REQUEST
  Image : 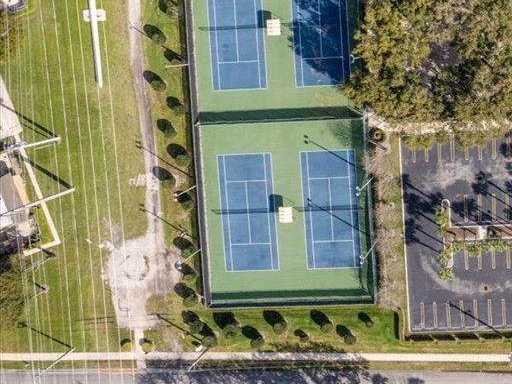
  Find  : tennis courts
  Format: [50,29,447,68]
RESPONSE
[297,149,362,269]
[214,152,279,272]
[287,0,350,87]
[204,0,267,91]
